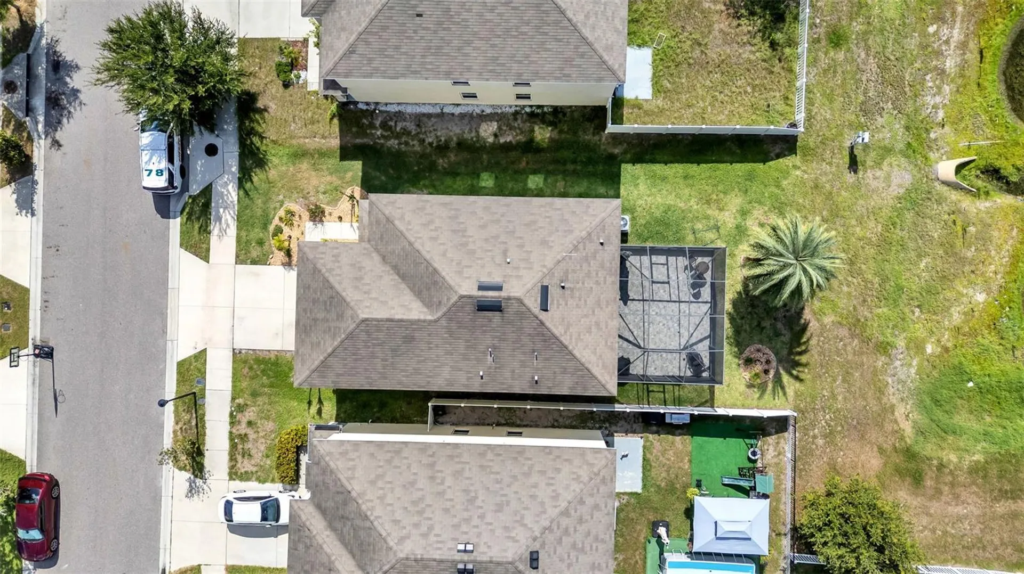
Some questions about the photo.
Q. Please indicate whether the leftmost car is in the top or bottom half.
bottom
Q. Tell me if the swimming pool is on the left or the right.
right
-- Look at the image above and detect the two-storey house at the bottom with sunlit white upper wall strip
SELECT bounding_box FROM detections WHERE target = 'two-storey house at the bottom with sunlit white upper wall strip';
[287,414,618,574]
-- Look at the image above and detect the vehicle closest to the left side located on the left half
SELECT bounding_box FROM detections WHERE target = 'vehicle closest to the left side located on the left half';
[15,473,64,561]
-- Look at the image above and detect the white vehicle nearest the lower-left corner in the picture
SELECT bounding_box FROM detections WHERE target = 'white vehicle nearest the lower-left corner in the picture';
[218,487,303,529]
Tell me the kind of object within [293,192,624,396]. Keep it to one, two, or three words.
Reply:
house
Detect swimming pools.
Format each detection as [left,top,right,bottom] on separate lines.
[656,543,756,574]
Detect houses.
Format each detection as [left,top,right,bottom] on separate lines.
[293,192,624,396]
[287,414,618,574]
[299,0,624,112]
